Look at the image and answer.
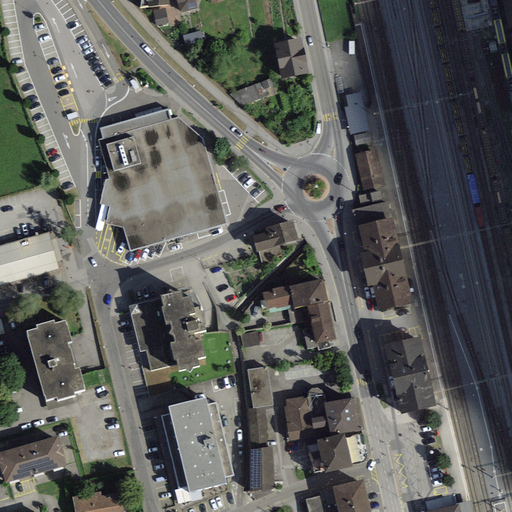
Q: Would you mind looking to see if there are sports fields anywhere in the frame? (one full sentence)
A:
No, there isn't any sports field down there.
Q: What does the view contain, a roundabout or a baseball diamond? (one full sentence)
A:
It is a roundabout that can be seen here.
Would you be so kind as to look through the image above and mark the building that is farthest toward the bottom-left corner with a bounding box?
[0,437,66,484]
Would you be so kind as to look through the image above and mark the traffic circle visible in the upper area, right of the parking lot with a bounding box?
[282,154,350,220]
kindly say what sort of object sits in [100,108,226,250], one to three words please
building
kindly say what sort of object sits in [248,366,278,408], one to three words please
barn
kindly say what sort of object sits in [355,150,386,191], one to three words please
shed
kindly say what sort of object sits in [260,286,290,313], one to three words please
house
